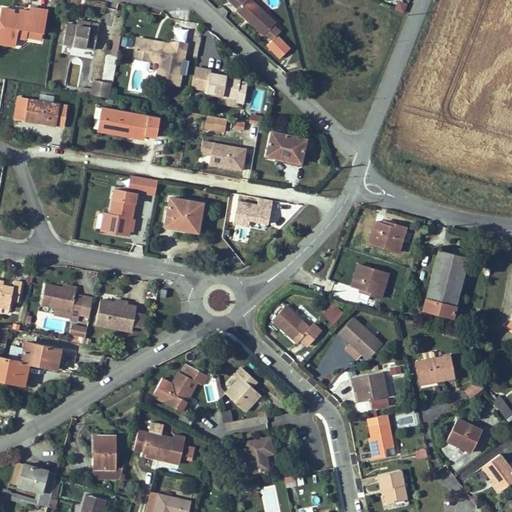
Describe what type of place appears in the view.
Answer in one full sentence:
The area seen from above is a residential area.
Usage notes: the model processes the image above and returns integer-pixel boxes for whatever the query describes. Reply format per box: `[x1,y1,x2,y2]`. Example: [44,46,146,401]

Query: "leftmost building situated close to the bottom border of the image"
[9,463,51,510]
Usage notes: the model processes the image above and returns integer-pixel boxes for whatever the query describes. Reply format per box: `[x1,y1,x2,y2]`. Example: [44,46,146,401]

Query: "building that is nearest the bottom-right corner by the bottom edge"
[481,456,512,494]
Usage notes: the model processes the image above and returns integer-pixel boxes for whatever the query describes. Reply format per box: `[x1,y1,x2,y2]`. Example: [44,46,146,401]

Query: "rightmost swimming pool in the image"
[395,412,418,428]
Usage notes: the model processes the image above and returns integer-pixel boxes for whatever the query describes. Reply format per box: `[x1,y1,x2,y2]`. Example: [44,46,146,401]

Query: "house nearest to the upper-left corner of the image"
[0,6,46,48]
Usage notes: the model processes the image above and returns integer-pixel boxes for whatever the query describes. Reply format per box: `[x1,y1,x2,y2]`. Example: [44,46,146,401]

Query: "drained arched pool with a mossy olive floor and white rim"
[66,57,83,89]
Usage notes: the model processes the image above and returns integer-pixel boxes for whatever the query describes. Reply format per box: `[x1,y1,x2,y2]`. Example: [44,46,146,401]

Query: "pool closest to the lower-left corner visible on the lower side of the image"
[36,311,72,334]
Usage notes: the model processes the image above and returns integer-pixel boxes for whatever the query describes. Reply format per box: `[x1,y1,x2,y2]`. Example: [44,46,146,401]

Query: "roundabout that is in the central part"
[193,270,236,323]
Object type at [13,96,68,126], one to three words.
house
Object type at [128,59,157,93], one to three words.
swimming pool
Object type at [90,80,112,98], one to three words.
building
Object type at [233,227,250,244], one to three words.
swimming pool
